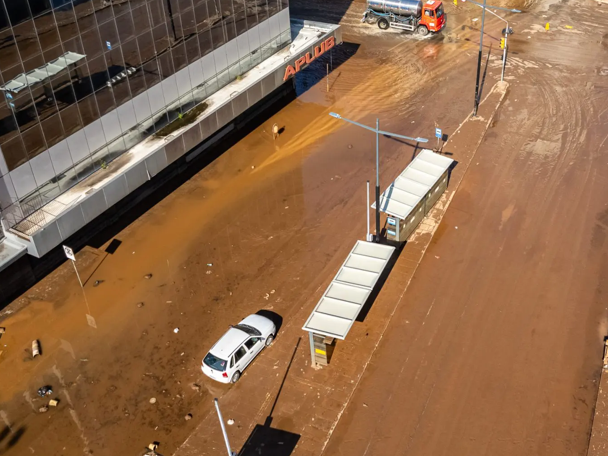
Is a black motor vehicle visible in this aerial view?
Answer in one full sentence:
No, this view has no black motor vehicle in it.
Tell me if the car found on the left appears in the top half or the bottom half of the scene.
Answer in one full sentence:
The car found on the left is in the bottom half of the image.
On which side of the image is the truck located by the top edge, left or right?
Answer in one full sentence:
The truck located by the top edge is on the right side of the image.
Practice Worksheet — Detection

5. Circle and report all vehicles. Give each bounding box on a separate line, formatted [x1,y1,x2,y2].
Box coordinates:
[357,0,447,36]
[193,314,277,390]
